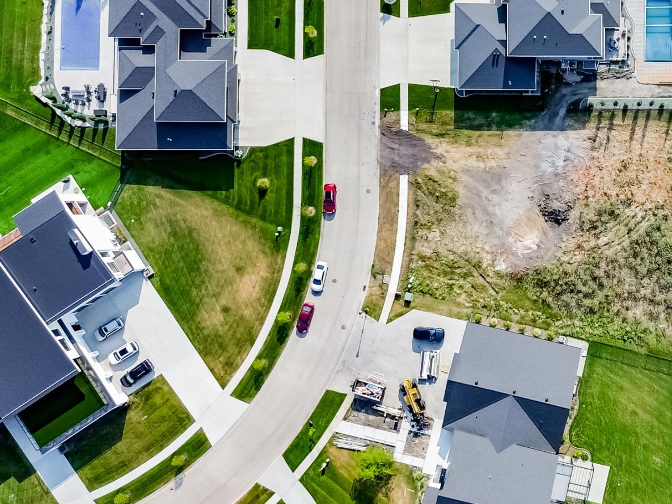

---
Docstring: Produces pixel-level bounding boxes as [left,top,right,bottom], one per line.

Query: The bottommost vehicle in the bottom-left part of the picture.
[123,361,154,384]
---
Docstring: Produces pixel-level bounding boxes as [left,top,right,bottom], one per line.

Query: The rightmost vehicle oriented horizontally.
[413,328,445,343]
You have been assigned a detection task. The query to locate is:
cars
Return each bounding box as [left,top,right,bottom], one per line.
[324,183,338,212]
[110,341,139,363]
[413,328,445,343]
[96,317,126,339]
[311,261,329,292]
[297,302,316,332]
[123,361,154,384]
